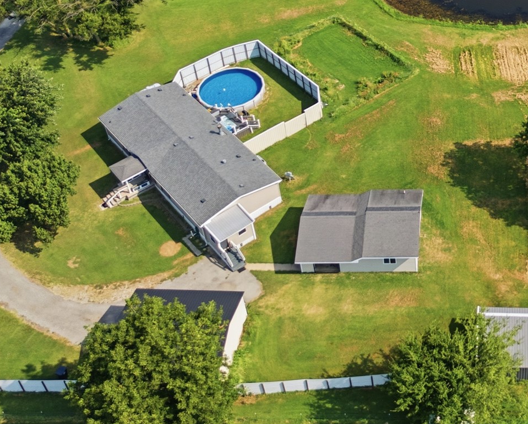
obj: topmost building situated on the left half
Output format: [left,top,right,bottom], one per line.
[95,82,285,272]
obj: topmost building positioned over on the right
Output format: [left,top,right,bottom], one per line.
[293,190,424,278]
